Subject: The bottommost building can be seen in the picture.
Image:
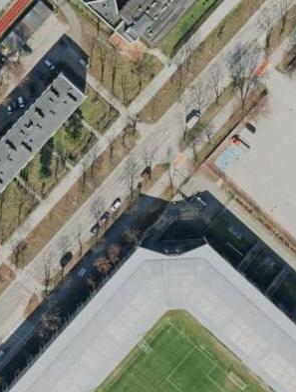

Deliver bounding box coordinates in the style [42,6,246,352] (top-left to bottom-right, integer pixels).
[0,72,85,191]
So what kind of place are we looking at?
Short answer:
sports ground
